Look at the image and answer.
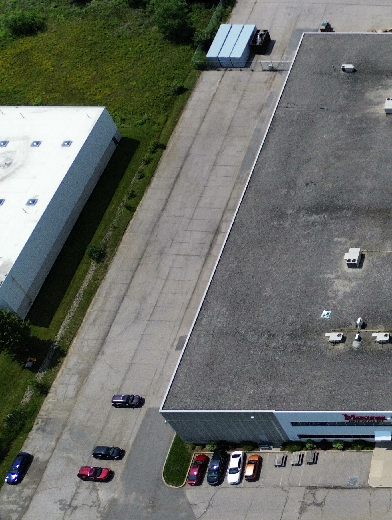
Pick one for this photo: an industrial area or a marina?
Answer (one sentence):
It's an industrial area.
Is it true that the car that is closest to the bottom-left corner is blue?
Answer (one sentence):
Yes, the car that is closest to the bottom-left corner is indeed blue.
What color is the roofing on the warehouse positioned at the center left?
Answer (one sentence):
The color of the roof on the warehouse positioned at the center left is white.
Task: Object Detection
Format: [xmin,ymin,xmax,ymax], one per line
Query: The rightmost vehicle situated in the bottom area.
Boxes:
[245,455,262,482]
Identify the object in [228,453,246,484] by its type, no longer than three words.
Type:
car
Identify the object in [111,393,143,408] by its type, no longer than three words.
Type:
car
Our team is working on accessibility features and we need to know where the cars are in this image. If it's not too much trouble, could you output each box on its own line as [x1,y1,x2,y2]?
[90,445,124,461]
[111,393,143,408]
[188,455,209,485]
[245,455,262,482]
[77,465,112,481]
[7,454,30,482]
[207,452,228,486]
[228,453,246,484]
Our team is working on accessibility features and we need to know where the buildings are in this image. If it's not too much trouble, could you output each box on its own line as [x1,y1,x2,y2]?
[0,106,124,313]
[160,32,392,451]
